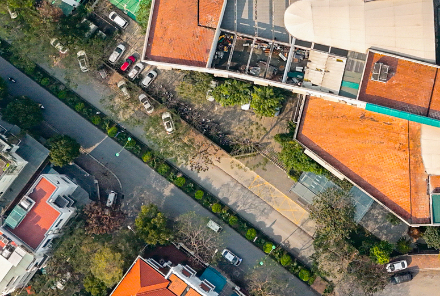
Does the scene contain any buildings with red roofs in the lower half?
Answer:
Yes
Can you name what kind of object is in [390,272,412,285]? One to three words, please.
vehicle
